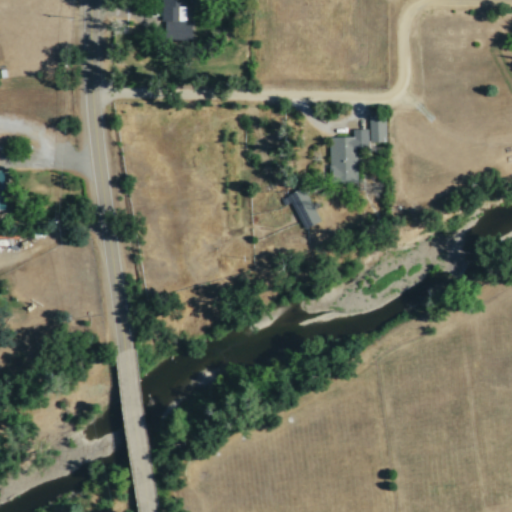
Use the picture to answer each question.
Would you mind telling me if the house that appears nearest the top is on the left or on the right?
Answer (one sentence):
The house that appears nearest the top appears in the left half of the scene.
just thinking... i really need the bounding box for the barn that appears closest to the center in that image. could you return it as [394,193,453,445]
[284,188,322,229]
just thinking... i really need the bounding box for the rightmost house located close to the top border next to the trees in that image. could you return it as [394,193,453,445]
[164,0,194,39]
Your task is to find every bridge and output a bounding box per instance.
[116,350,157,512]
